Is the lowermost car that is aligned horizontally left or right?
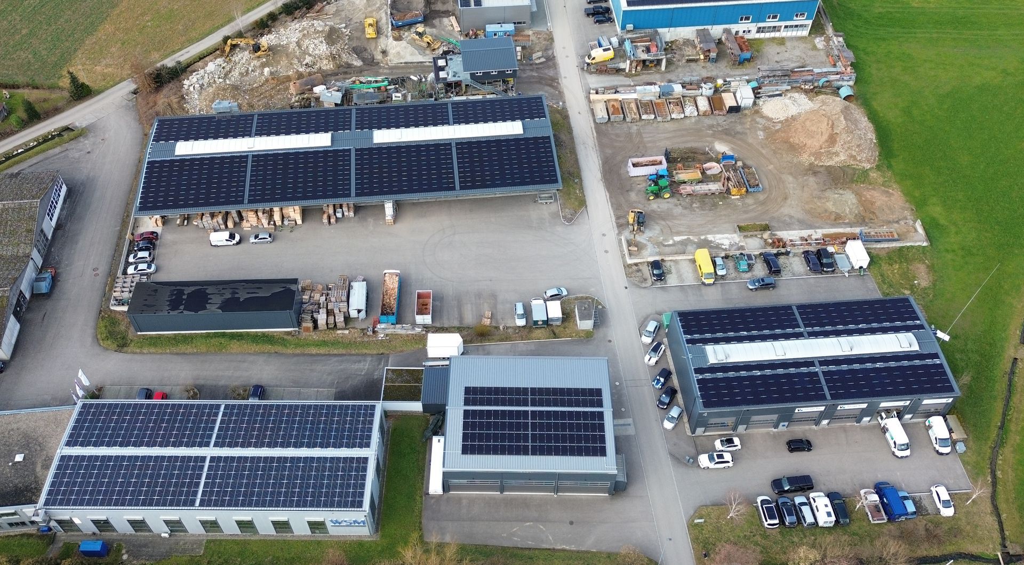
right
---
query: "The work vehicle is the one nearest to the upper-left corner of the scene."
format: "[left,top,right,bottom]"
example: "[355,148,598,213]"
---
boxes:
[225,34,272,58]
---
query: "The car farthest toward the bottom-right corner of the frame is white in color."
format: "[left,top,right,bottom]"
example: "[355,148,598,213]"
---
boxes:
[930,485,954,517]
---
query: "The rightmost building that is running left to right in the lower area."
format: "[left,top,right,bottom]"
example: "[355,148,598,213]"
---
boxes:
[667,295,961,434]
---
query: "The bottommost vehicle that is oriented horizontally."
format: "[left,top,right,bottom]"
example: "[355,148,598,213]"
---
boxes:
[770,472,817,496]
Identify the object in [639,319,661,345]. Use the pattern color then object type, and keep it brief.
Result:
white car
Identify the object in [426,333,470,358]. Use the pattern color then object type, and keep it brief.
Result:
white trailer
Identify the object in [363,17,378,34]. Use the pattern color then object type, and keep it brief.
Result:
yellow work vehicle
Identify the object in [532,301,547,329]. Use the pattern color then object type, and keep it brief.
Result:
white vehicle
